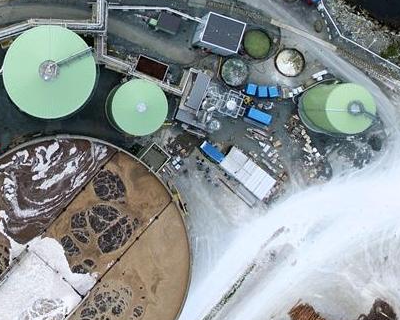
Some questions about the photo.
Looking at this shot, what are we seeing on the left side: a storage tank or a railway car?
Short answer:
storage tank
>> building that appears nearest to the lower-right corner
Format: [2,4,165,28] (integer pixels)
[227,157,276,200]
